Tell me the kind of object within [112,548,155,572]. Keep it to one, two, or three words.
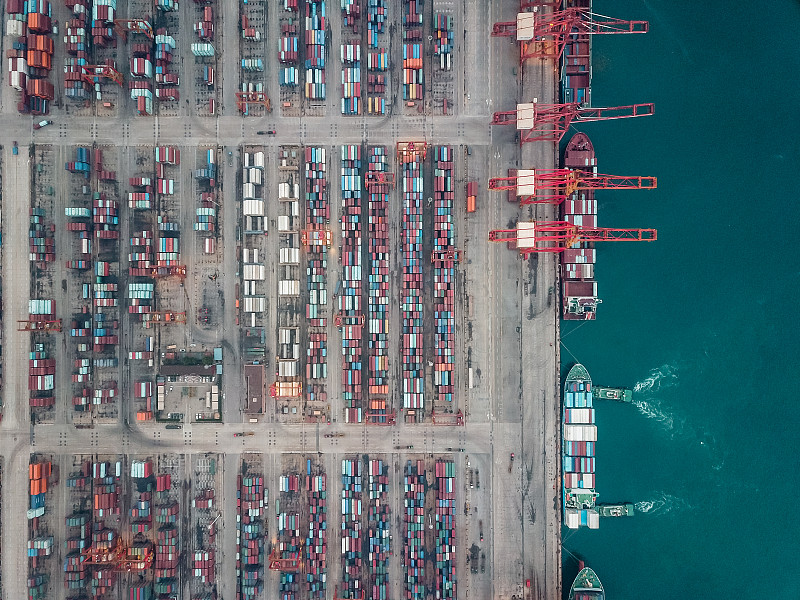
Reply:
container crane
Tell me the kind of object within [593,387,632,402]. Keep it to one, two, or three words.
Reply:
boat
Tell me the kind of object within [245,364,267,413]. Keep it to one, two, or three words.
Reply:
building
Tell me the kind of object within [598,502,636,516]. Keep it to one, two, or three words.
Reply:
boat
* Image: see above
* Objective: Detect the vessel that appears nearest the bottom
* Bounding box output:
[566,555,607,600]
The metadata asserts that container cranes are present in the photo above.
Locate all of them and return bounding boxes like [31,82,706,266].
[145,311,188,324]
[112,19,155,41]
[331,313,366,327]
[12,319,62,331]
[363,408,397,424]
[490,101,656,149]
[432,408,468,424]
[362,173,397,190]
[78,541,124,564]
[112,548,155,572]
[490,165,659,208]
[77,65,123,86]
[430,250,466,263]
[490,9,649,68]
[266,545,303,572]
[490,216,659,255]
[395,141,429,160]
[269,381,306,398]
[297,230,334,245]
[232,92,270,112]
[145,266,188,279]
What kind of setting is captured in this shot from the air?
port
